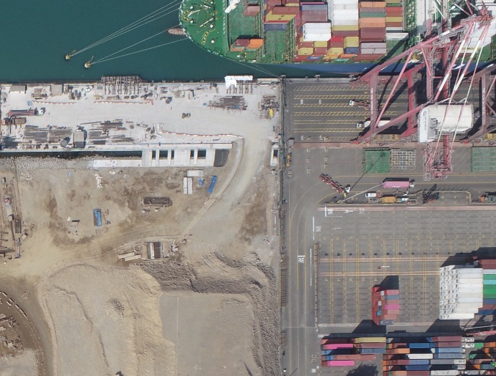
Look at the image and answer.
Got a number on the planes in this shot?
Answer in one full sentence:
There are no planes in the image.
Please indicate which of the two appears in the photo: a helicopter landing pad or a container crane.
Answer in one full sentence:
There is a container crane in the scene.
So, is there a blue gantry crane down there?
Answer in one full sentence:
No, there is no blue gantry crane in the image.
